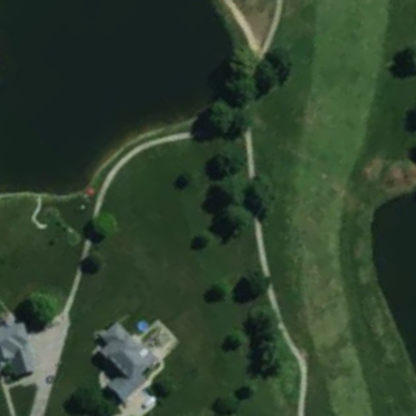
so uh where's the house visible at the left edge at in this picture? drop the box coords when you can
[0,316,37,375]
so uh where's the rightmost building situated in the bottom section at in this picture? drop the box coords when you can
[100,319,154,402]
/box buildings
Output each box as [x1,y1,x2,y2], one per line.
[100,319,154,402]
[0,316,37,375]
